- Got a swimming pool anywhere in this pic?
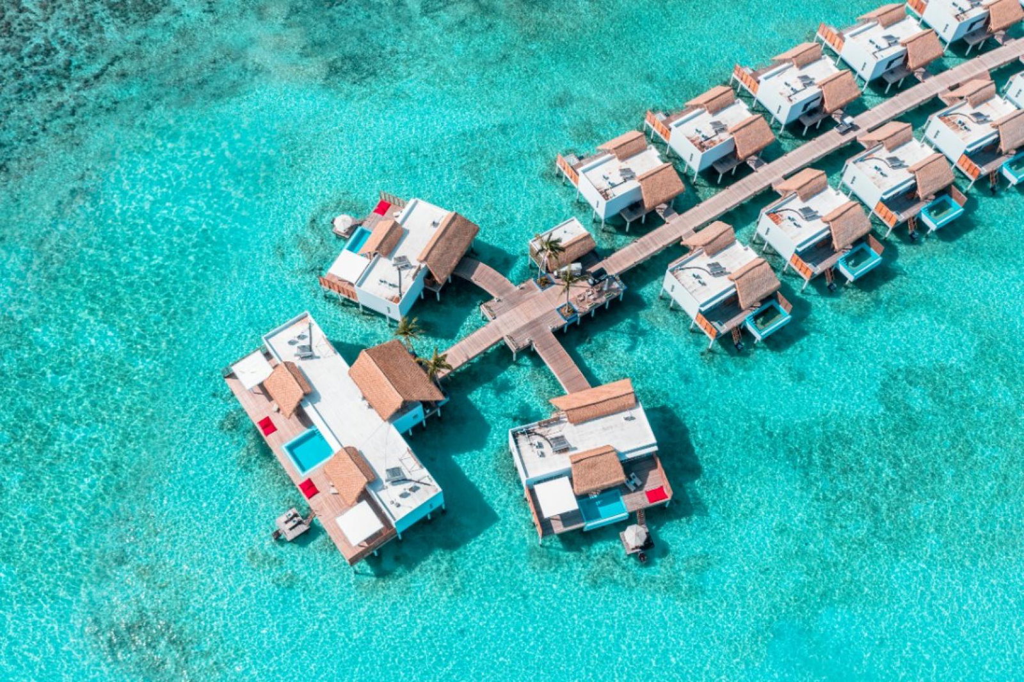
Yes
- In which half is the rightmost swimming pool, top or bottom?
top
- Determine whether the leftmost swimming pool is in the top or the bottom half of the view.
bottom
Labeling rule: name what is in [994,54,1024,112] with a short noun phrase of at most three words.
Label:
house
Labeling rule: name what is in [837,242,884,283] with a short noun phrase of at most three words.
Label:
swimming pool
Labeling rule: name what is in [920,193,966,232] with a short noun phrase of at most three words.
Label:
swimming pool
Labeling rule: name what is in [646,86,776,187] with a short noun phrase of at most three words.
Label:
house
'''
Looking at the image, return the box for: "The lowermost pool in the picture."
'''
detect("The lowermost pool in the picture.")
[577,489,629,531]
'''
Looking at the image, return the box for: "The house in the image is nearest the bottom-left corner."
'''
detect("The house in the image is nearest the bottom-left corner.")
[220,311,452,573]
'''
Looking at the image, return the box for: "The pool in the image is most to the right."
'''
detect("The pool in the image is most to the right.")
[1001,150,1024,185]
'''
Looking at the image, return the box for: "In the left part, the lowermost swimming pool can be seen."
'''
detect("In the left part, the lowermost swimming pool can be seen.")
[282,426,336,476]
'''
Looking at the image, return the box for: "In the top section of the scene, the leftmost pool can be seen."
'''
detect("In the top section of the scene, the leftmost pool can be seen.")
[339,226,373,257]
